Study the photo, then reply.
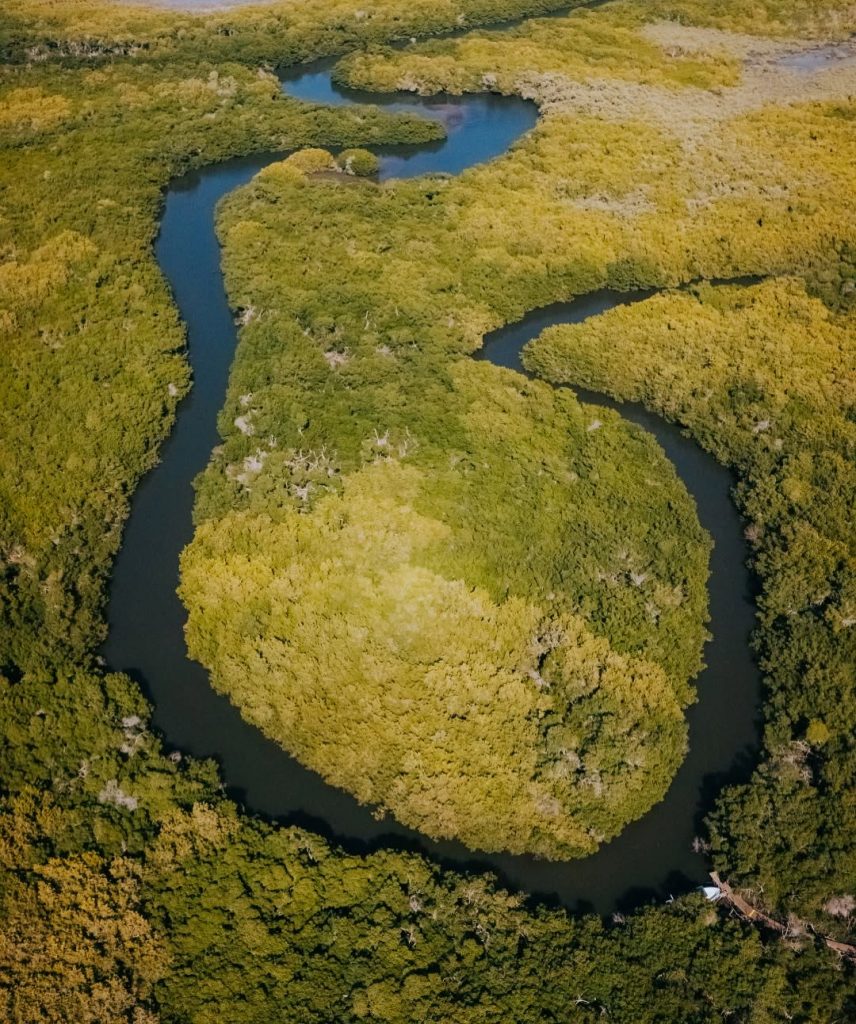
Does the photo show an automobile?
No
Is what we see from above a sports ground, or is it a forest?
forest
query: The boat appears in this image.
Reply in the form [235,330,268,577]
[697,883,721,901]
